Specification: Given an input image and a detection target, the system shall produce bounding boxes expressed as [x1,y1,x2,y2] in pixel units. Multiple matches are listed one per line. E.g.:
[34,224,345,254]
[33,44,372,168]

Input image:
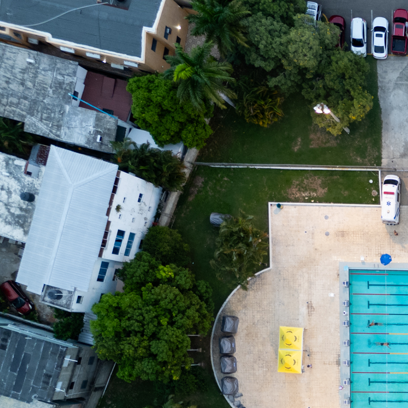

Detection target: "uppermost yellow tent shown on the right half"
[279,326,308,350]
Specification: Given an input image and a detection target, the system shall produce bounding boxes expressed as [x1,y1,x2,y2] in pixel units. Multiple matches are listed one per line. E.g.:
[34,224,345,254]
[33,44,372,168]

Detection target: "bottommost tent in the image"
[278,350,307,373]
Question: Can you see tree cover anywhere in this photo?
Yes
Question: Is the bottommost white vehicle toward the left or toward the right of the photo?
right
